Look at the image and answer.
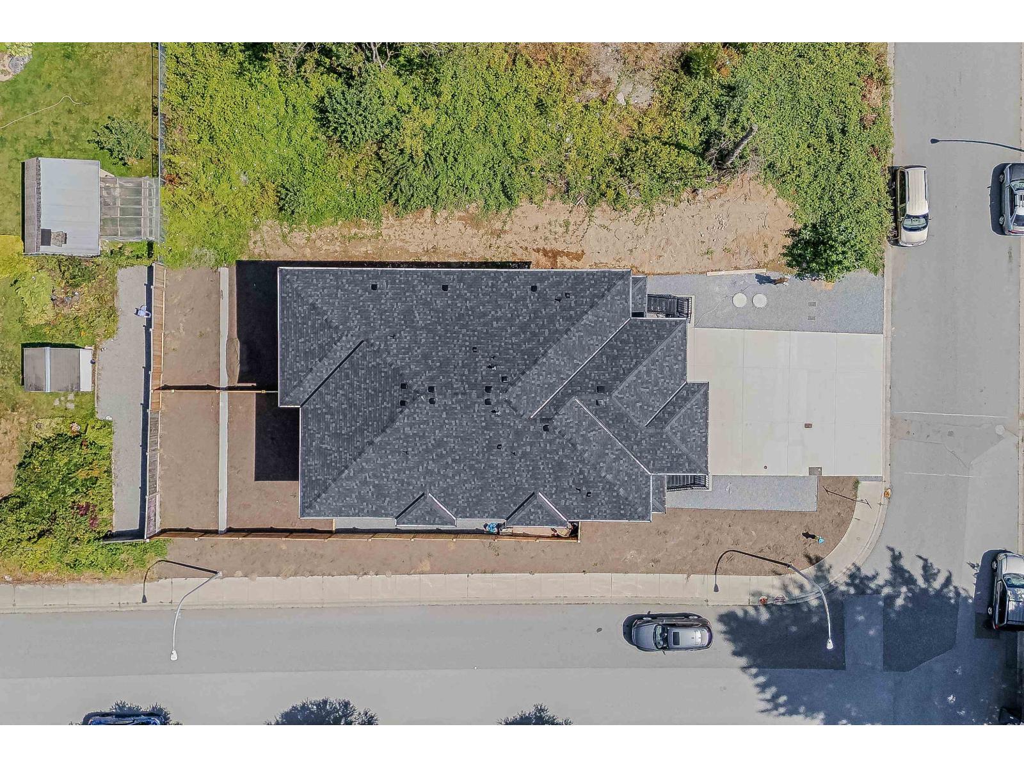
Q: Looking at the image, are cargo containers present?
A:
No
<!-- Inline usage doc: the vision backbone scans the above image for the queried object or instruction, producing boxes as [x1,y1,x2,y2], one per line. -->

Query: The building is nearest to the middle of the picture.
[276,264,711,530]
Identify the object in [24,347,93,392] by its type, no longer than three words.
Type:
shed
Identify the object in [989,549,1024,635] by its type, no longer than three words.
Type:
car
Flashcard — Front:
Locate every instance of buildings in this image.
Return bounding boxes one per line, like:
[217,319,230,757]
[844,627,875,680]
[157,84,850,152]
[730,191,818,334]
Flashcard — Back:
[276,264,711,530]
[24,347,93,392]
[24,155,114,260]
